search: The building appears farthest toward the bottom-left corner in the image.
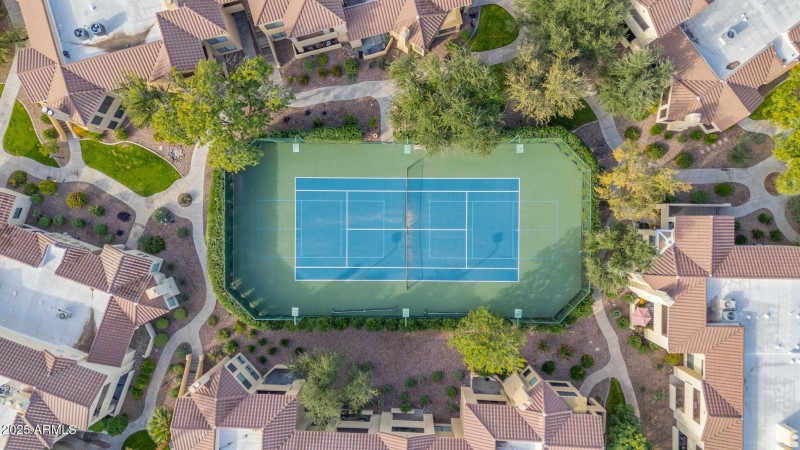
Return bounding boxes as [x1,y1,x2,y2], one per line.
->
[0,190,194,450]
